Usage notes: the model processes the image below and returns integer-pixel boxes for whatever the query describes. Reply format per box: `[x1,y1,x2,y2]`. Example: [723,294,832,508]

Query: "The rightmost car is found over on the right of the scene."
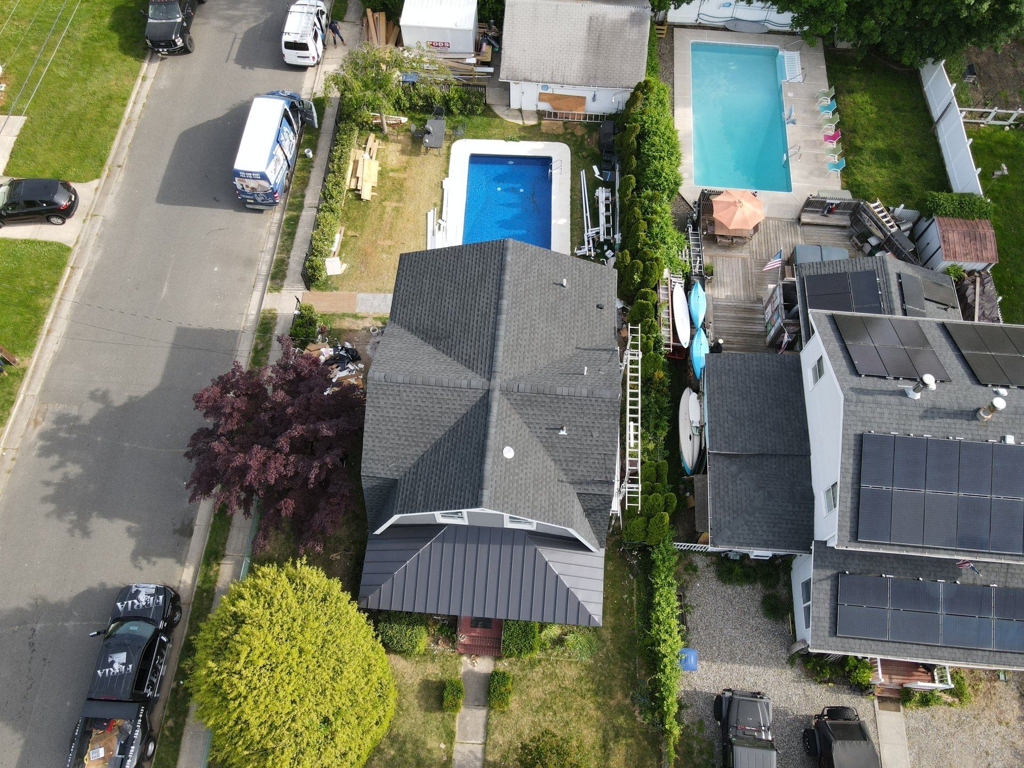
[806,706,875,768]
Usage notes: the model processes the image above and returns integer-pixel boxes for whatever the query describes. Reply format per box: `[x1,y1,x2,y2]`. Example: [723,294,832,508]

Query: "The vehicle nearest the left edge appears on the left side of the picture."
[0,179,82,230]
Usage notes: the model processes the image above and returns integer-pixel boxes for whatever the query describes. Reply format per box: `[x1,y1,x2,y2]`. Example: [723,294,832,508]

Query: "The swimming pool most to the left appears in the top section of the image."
[449,140,570,256]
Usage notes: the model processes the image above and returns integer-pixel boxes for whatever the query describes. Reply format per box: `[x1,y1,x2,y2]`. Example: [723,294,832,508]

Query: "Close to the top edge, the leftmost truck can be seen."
[150,0,219,55]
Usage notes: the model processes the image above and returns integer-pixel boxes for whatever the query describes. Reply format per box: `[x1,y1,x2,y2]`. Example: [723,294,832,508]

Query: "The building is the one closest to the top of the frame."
[499,0,641,115]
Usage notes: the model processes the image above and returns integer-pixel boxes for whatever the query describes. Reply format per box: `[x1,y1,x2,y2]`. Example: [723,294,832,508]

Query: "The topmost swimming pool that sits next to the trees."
[682,40,813,192]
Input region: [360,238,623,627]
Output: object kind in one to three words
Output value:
house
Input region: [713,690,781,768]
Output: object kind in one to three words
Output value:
car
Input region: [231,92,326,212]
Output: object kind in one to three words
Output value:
van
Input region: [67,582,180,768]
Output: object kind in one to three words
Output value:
truck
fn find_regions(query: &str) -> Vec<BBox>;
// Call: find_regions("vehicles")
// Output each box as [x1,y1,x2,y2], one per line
[806,706,875,768]
[231,92,326,212]
[283,0,336,72]
[150,0,219,55]
[713,690,781,768]
[0,179,82,230]
[67,582,180,768]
